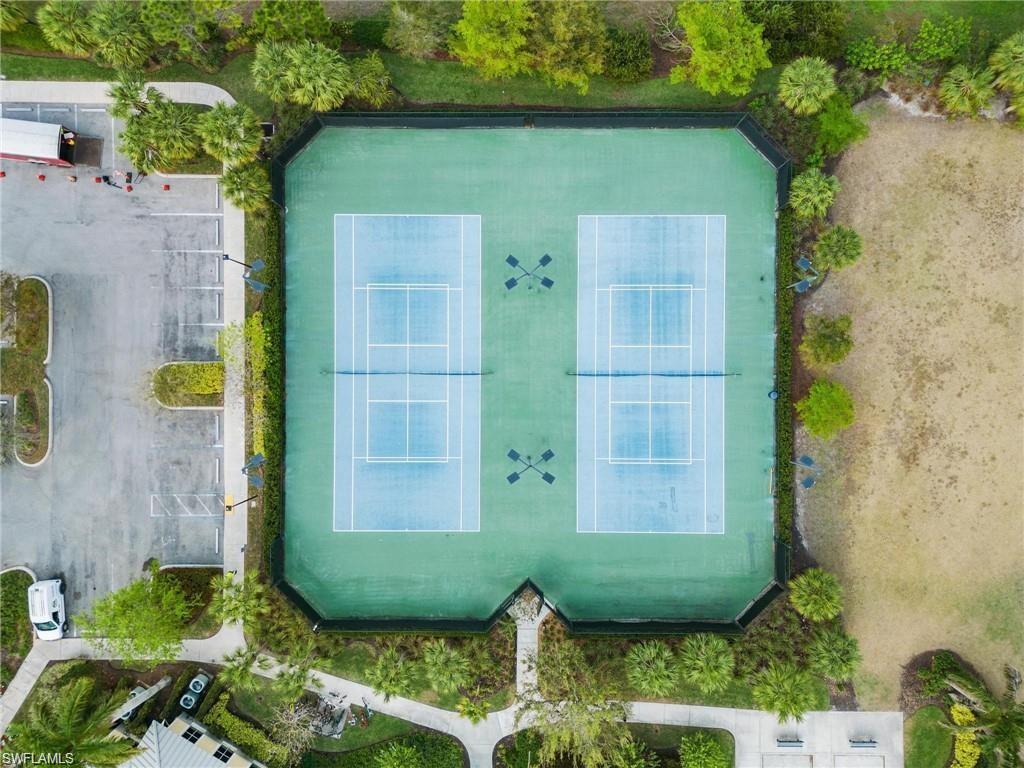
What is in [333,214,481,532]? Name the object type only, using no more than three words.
tennis court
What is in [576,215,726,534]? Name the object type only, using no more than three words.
tennis court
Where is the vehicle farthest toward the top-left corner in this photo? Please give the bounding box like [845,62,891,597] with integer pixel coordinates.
[0,116,106,165]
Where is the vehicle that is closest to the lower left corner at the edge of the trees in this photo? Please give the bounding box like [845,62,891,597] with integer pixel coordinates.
[28,578,69,643]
